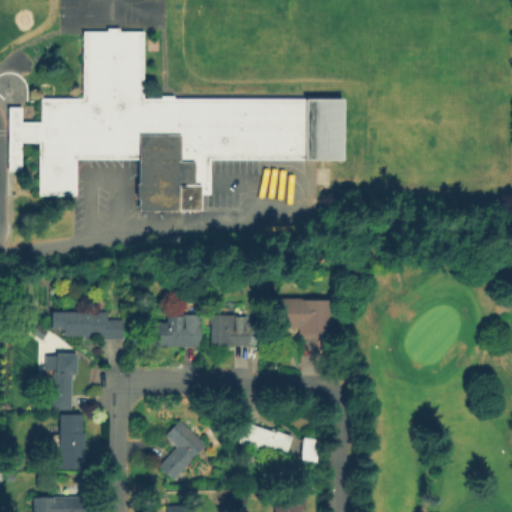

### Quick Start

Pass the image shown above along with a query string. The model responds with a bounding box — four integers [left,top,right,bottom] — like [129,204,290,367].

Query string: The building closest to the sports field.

[9,28,346,212]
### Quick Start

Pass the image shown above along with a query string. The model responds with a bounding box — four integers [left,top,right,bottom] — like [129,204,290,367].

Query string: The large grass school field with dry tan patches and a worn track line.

[170,0,512,196]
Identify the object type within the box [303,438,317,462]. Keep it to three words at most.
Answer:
building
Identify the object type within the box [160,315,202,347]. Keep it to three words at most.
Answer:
house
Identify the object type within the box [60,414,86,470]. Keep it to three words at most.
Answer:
house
